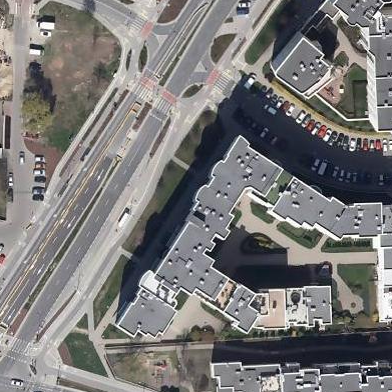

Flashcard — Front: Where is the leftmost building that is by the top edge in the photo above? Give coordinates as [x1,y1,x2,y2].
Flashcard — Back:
[271,0,338,98]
